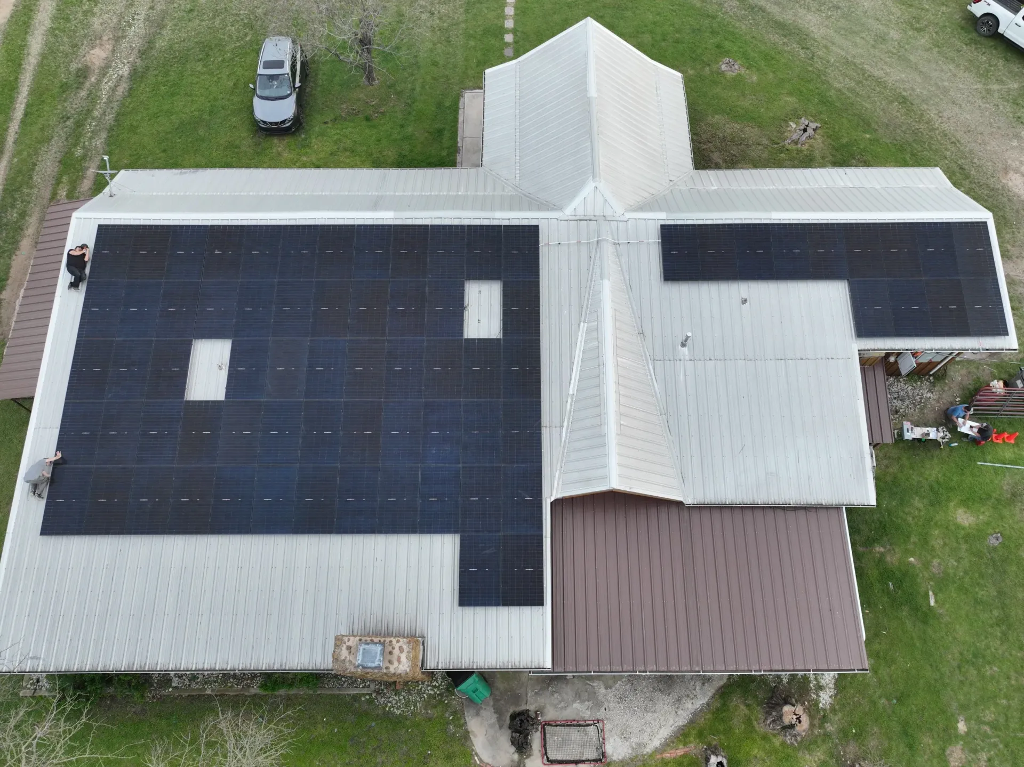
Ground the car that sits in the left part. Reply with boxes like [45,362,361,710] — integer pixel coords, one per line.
[244,36,310,134]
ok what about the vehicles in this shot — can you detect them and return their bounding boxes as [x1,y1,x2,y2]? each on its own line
[244,36,310,134]
[969,0,1024,55]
